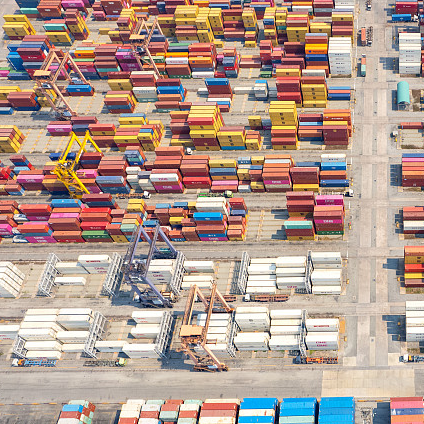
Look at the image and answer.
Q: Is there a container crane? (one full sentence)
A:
Yes, I can see a container crane in this picture.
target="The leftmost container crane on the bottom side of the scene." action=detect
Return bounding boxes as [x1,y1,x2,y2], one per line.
[127,229,182,311]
